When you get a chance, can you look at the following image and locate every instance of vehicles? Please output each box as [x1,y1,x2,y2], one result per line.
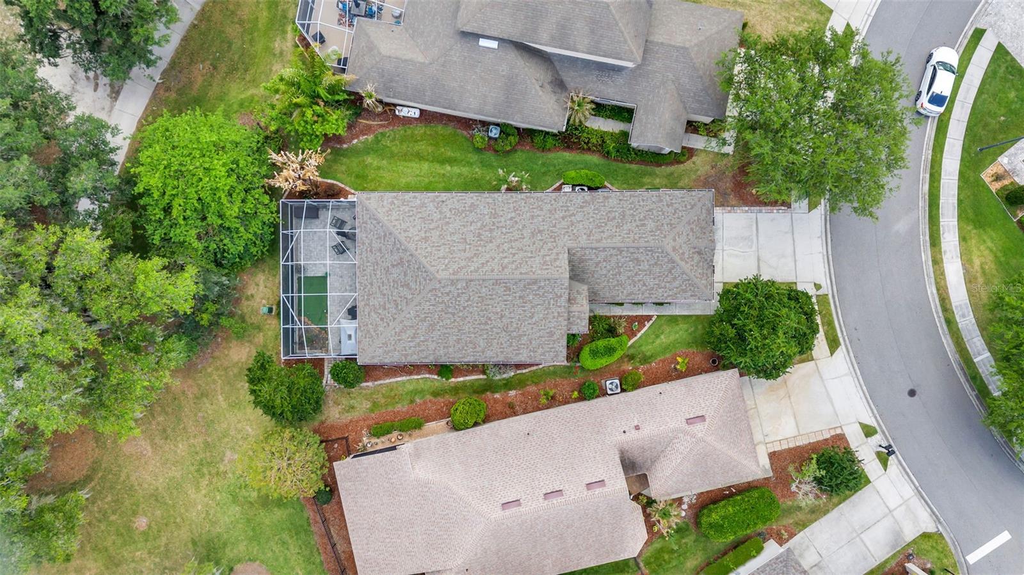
[912,45,960,119]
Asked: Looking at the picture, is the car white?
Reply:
Yes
